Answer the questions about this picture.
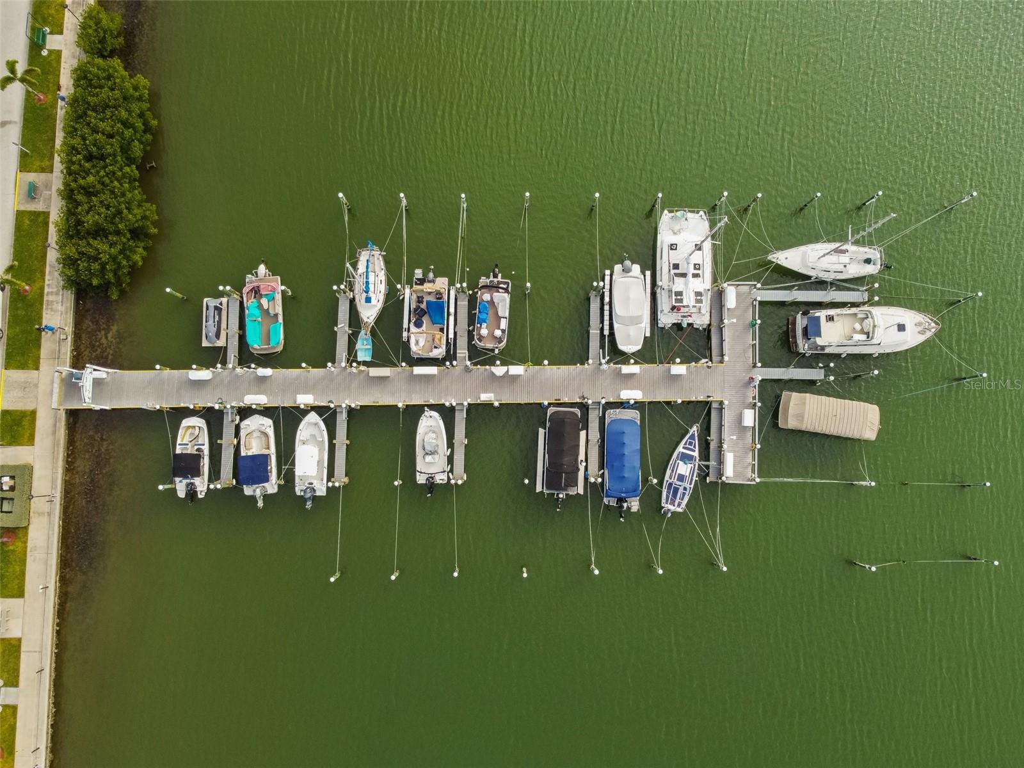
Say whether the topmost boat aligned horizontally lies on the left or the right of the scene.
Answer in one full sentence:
The topmost boat aligned horizontally sits on the right side.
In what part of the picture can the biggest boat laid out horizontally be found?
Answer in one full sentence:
You can find the biggest boat laid out horizontally in the right area of the picture.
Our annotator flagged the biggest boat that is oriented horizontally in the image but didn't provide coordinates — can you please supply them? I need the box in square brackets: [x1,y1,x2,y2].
[789,305,942,357]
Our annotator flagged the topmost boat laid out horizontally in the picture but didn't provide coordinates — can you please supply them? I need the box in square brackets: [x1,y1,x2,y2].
[766,213,896,282]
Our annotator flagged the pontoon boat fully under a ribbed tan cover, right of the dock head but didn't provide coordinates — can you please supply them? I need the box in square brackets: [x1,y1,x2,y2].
[776,391,881,440]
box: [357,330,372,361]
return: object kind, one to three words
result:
boat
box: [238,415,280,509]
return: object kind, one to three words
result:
boat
